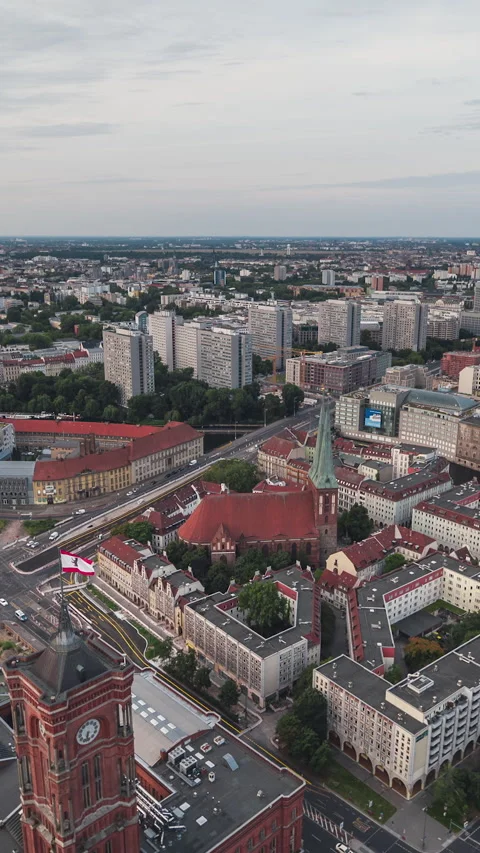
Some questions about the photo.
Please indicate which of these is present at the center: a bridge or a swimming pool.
bridge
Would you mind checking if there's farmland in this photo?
No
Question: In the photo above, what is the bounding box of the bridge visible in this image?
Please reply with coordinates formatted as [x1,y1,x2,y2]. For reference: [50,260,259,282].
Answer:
[202,412,318,459]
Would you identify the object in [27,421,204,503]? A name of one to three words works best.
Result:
building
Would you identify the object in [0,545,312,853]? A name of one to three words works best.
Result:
building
